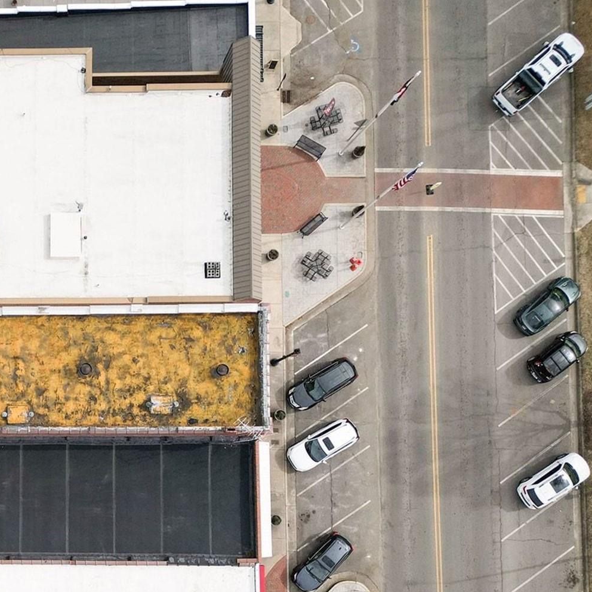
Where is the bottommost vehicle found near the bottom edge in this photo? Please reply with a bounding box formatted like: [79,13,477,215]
[289,525,356,592]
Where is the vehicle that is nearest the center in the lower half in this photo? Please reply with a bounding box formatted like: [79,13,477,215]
[283,356,359,411]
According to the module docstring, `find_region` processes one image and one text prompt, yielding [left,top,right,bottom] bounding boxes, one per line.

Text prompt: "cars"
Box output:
[283,356,359,411]
[289,525,356,592]
[510,452,587,511]
[505,278,578,340]
[519,332,585,387]
[283,415,360,473]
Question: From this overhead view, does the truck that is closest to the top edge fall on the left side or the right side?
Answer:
right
